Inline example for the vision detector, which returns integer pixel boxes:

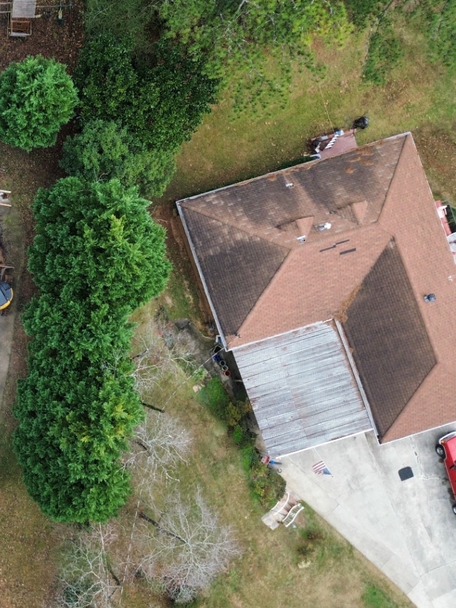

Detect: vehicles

[0,265,14,318]
[434,426,456,496]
